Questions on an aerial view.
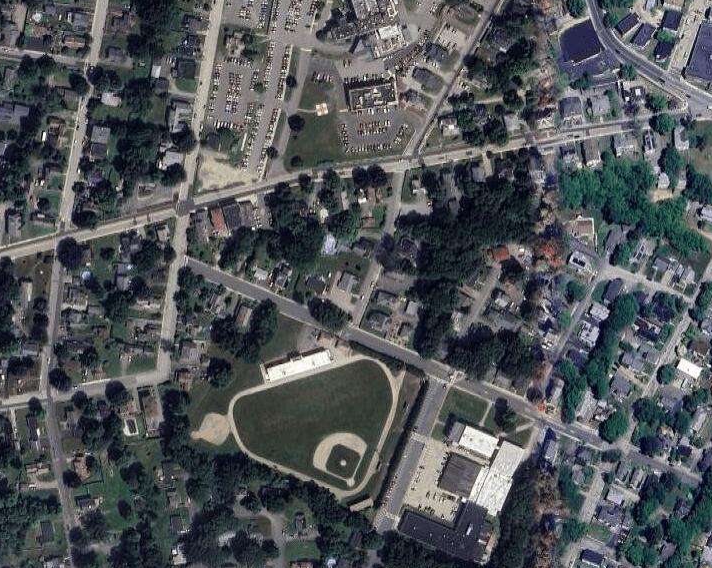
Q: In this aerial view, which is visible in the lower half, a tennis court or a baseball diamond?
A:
baseball diamond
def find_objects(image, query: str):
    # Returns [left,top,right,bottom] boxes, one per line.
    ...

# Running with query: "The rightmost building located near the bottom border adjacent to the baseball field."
[399,423,523,565]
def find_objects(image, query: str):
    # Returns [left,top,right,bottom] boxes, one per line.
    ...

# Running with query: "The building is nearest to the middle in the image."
[337,269,358,293]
